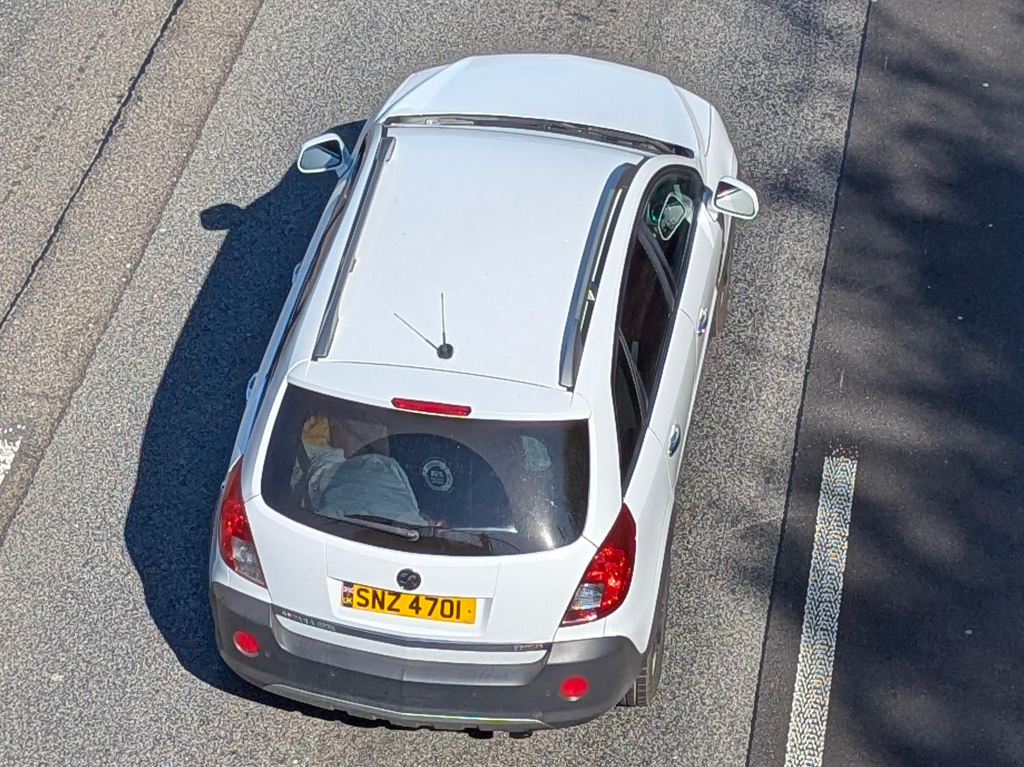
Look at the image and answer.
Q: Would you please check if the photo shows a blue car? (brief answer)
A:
No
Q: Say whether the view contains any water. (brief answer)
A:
No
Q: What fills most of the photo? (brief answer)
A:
paved ground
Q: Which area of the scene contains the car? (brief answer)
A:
center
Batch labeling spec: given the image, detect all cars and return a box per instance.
[209,53,758,744]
